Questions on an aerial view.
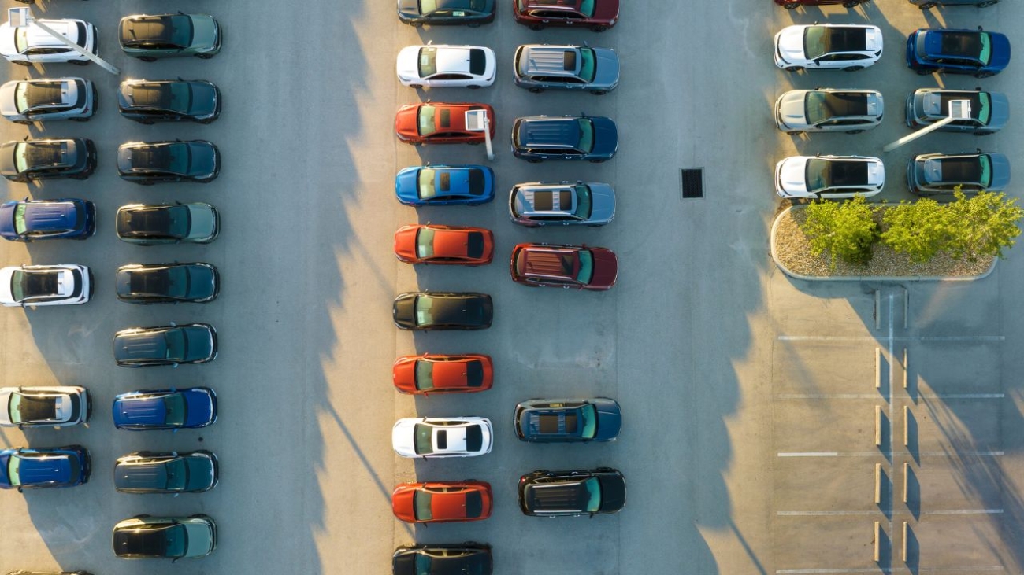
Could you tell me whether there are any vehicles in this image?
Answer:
Yes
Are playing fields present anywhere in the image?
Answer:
No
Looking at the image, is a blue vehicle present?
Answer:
Yes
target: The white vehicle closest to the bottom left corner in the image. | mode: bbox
[393,417,494,462]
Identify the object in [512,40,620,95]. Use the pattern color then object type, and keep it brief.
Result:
blue car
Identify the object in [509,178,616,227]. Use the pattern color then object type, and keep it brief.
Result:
blue car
